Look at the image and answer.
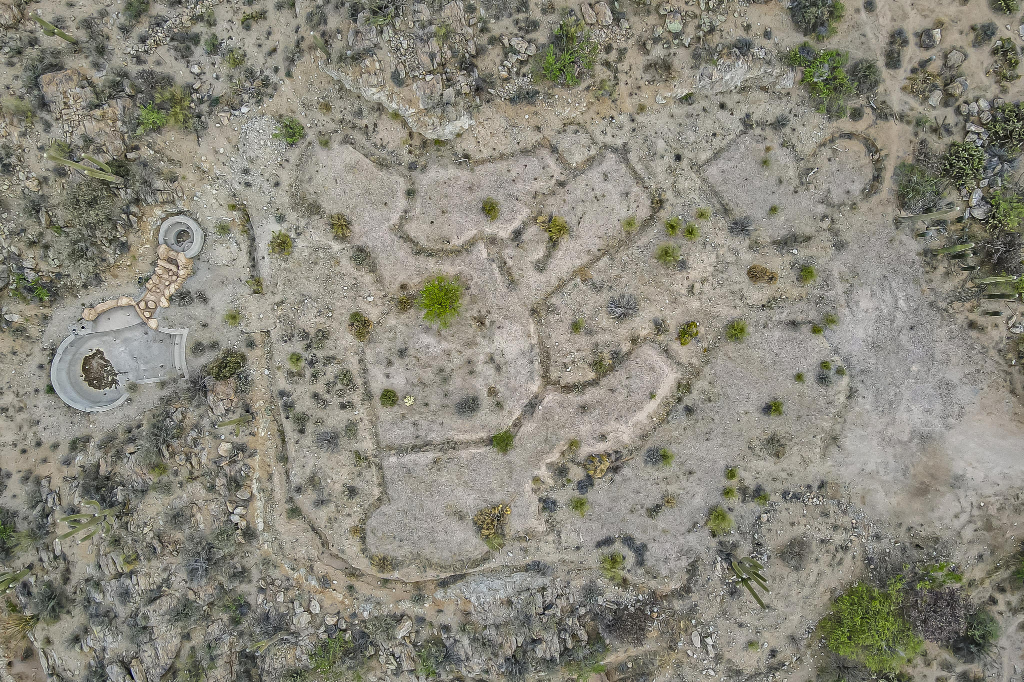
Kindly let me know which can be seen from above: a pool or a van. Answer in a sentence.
There is a pool in the scene.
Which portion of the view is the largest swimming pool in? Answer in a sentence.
The largest swimming pool is in the left part of the image.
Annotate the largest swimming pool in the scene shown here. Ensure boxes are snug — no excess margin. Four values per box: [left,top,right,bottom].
[51,310,191,412]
